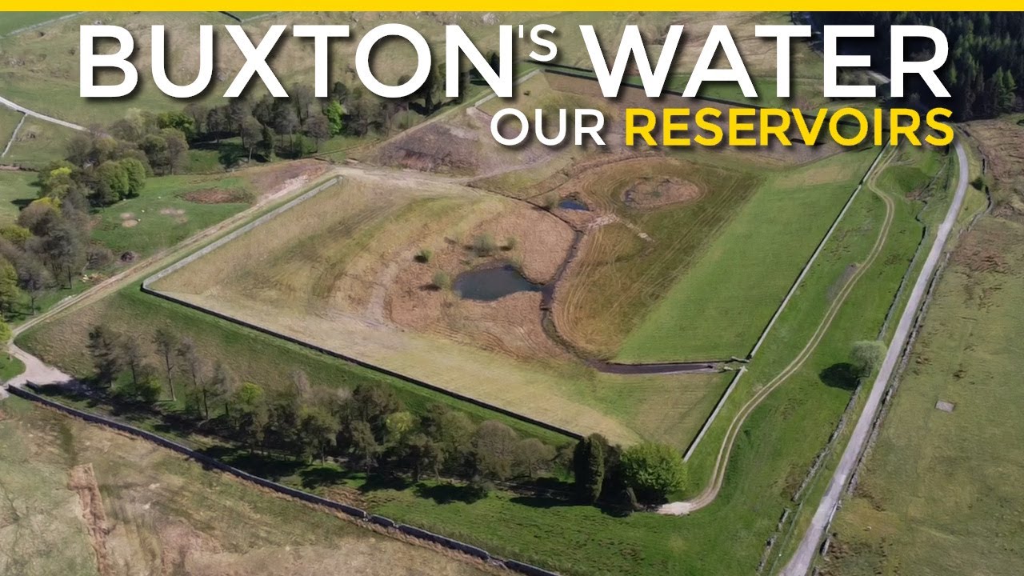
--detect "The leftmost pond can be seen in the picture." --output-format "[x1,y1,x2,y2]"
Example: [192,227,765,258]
[454,267,547,301]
